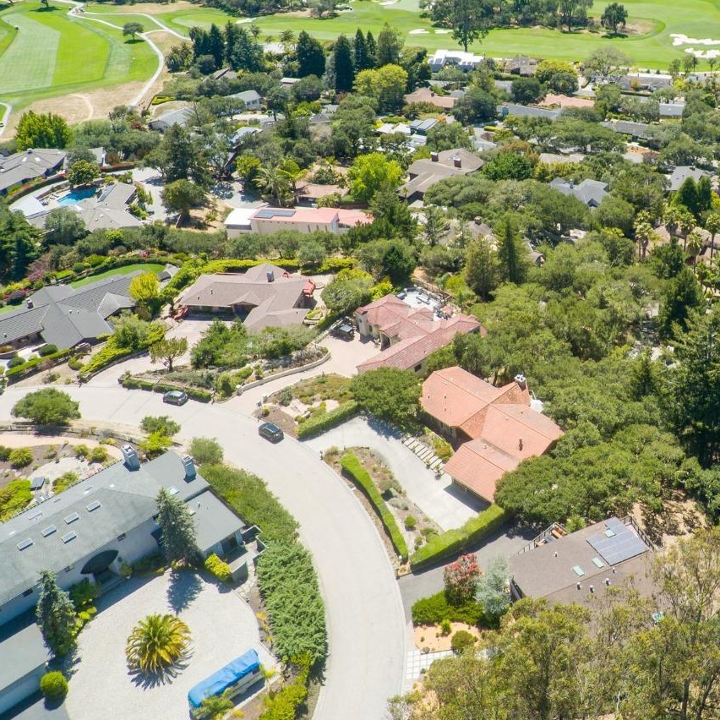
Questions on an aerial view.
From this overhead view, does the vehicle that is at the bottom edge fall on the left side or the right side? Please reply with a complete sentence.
It is on the left.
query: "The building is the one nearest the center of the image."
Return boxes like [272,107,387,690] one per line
[358,283,481,378]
